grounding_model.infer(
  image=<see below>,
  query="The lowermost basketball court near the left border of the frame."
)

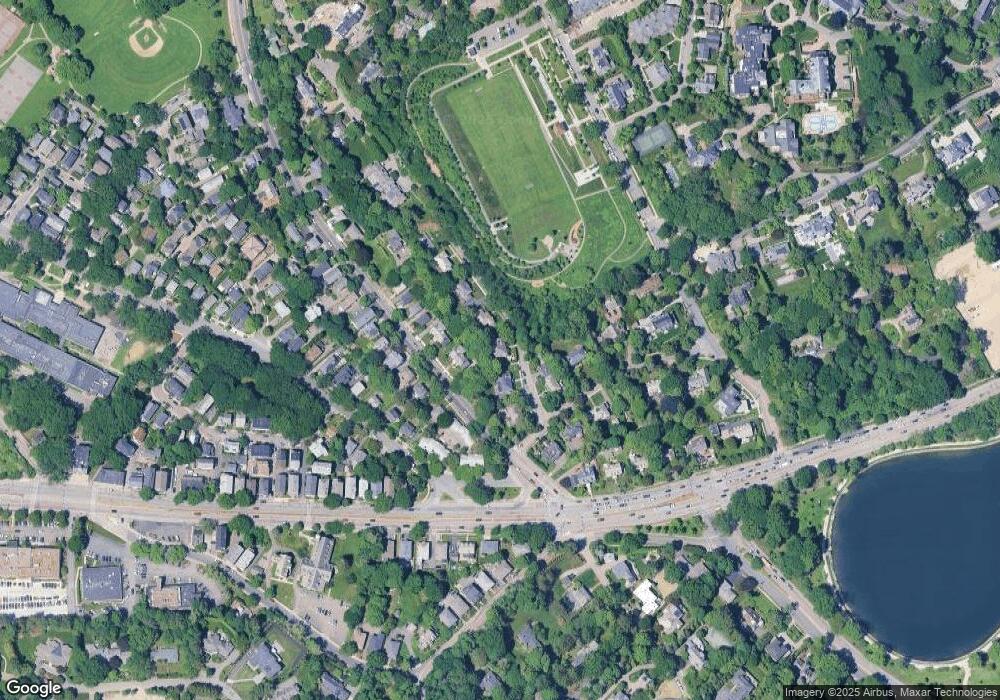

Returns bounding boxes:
[0,56,42,123]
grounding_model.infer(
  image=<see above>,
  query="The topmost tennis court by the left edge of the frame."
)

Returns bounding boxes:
[0,12,25,57]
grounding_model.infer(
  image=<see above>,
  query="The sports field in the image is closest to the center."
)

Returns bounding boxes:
[433,70,581,259]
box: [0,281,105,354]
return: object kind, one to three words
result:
building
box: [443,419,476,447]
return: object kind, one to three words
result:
house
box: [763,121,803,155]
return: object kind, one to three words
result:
house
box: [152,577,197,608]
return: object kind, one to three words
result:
building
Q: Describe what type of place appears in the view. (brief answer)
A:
residential area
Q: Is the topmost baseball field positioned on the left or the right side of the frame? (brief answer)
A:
left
